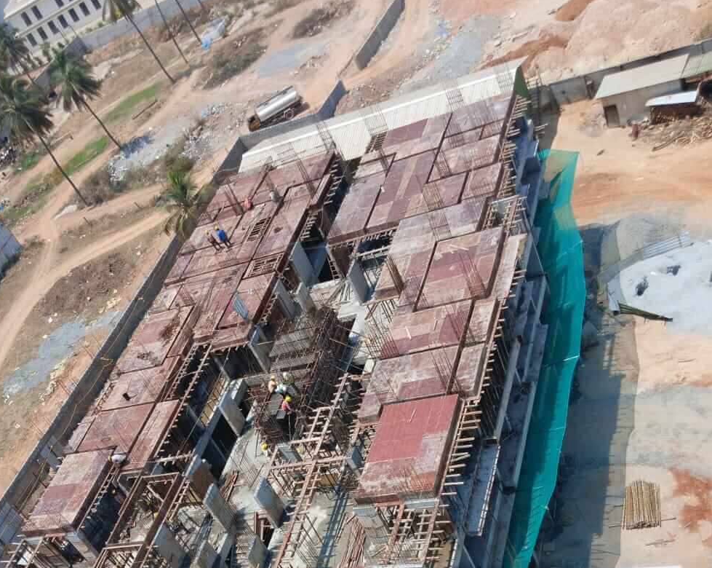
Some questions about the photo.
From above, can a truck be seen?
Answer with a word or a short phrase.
Yes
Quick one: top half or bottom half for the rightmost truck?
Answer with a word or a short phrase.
top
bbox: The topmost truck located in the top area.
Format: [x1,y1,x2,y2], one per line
[243,81,301,126]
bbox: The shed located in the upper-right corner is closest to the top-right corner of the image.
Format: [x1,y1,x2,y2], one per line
[690,44,712,90]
